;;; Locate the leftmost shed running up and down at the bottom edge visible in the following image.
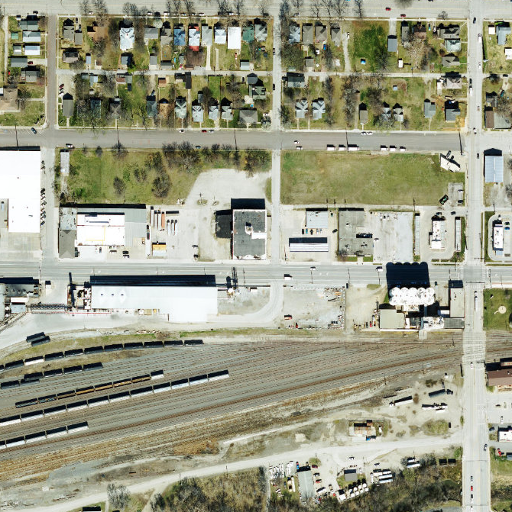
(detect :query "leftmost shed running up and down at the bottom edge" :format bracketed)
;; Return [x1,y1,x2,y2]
[298,471,314,502]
